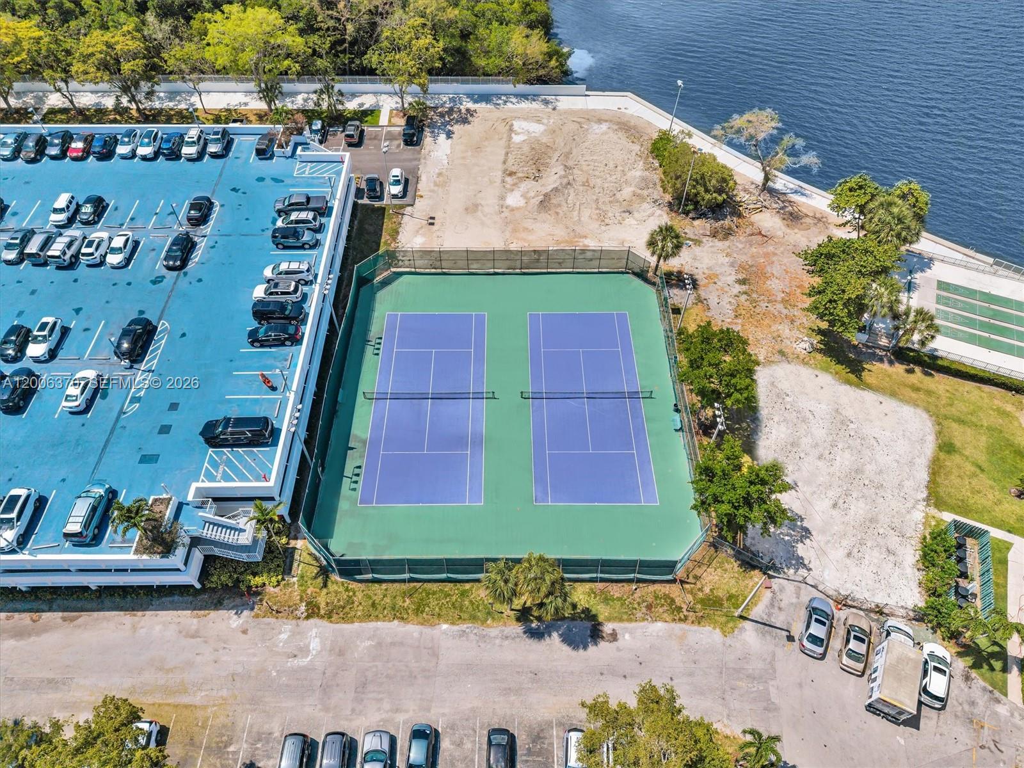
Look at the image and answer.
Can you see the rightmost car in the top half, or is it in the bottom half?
bottom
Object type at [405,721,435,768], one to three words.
car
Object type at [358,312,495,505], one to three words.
tennis court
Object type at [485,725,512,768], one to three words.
car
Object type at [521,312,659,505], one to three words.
tennis court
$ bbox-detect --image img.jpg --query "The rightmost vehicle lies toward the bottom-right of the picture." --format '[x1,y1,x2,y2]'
[920,640,954,711]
